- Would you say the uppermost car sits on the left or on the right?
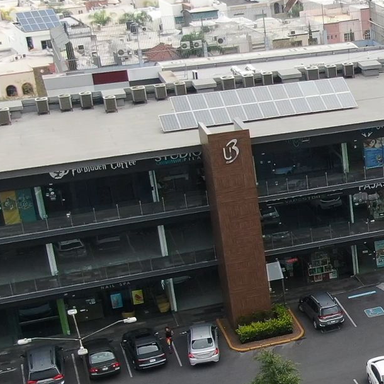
right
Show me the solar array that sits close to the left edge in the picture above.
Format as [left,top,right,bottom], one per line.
[0,0,52,32]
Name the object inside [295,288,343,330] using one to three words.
car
